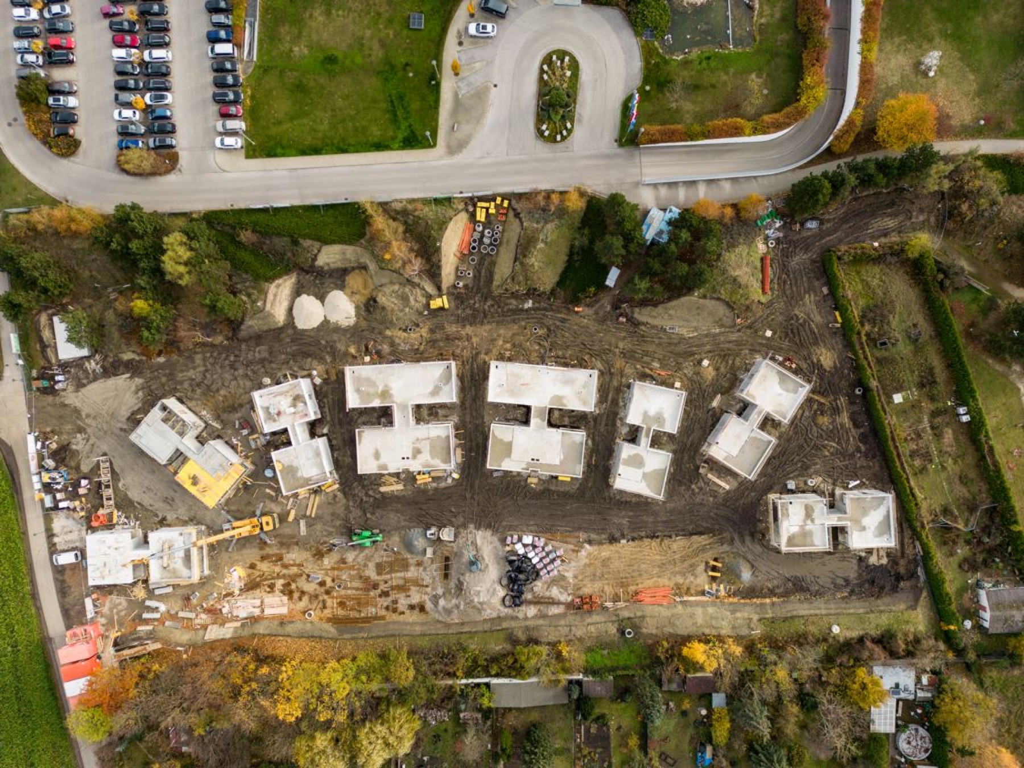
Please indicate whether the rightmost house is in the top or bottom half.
bottom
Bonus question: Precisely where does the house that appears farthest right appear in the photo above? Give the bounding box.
[978,586,1024,633]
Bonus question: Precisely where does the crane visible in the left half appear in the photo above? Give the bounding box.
[122,500,279,567]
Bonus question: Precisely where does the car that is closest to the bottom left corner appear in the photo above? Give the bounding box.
[50,550,83,565]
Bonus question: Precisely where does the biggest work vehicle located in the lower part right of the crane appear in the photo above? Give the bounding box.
[331,530,381,549]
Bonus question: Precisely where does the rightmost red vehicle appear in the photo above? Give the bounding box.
[220,104,243,118]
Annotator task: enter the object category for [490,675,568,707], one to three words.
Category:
shed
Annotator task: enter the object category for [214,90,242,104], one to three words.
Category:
car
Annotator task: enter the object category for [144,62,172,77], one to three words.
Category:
car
